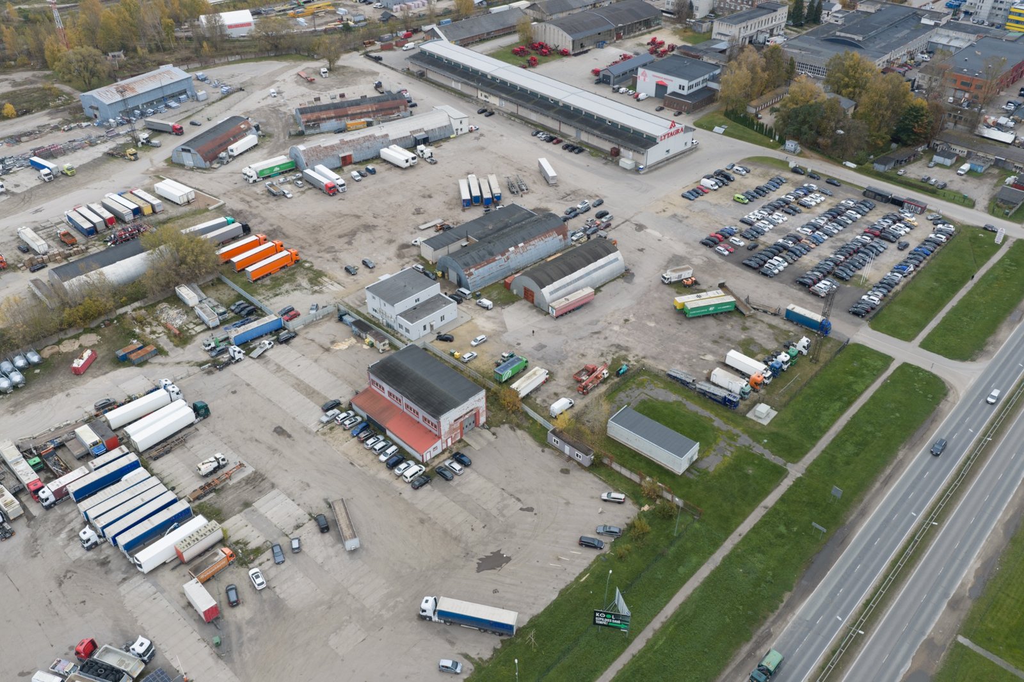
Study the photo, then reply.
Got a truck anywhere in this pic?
Yes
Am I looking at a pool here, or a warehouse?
warehouse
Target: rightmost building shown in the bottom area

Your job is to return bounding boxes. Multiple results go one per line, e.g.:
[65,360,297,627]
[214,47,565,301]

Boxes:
[747,406,779,430]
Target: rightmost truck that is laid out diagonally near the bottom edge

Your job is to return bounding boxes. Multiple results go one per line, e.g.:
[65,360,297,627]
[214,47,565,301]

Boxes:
[748,648,784,682]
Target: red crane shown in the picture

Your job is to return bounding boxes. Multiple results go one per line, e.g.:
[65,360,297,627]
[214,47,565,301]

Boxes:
[579,360,614,393]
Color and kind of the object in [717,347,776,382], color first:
white trailer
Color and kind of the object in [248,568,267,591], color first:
white car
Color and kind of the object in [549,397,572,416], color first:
white vehicle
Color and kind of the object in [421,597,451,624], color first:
white truck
